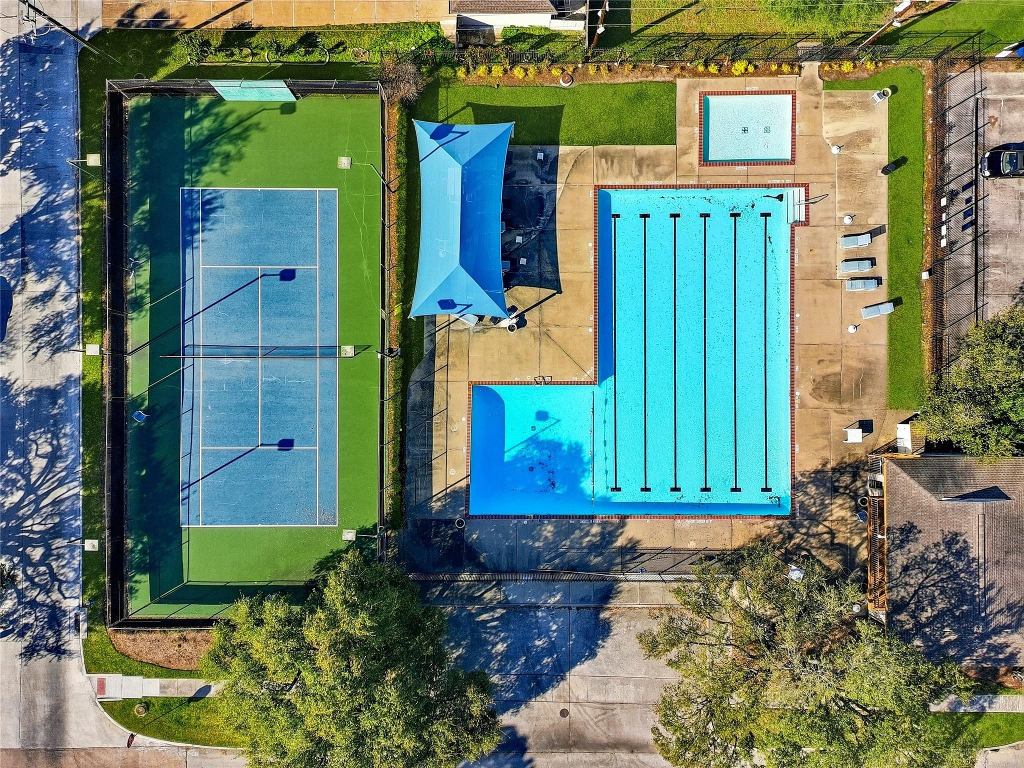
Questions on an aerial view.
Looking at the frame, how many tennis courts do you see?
one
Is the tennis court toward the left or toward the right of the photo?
left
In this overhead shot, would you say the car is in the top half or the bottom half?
top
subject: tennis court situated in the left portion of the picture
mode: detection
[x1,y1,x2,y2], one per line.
[129,97,388,619]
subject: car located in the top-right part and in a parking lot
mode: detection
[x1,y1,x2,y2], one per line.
[984,146,1024,179]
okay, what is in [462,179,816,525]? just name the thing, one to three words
swimming pool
